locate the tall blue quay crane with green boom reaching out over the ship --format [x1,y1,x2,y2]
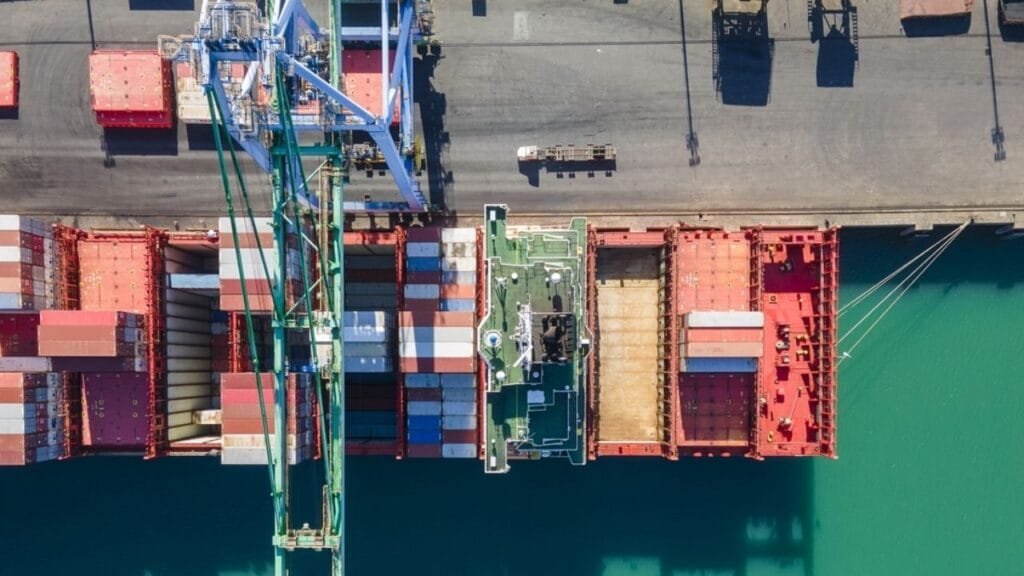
[152,0,450,576]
